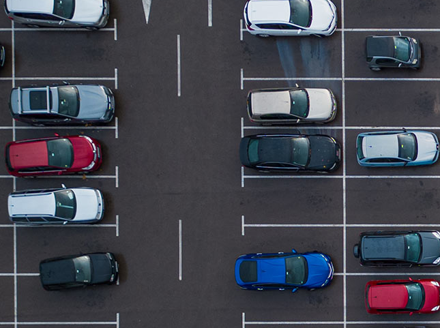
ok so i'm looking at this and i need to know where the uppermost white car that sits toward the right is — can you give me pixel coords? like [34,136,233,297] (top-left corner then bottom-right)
[241,0,338,39]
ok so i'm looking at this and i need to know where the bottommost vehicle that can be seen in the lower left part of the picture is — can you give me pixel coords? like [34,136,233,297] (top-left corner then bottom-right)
[37,250,121,292]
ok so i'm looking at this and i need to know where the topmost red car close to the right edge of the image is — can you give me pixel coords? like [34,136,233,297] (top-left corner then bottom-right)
[365,275,440,318]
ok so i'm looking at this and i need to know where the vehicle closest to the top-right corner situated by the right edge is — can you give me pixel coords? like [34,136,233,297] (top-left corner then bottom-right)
[364,30,421,72]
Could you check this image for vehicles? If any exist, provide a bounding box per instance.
[352,227,440,272]
[2,0,112,28]
[238,129,342,175]
[2,131,104,179]
[246,82,338,127]
[37,250,121,292]
[7,81,118,127]
[355,126,440,171]
[241,0,338,39]
[364,30,421,72]
[365,275,440,318]
[6,183,108,227]
[232,248,336,294]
